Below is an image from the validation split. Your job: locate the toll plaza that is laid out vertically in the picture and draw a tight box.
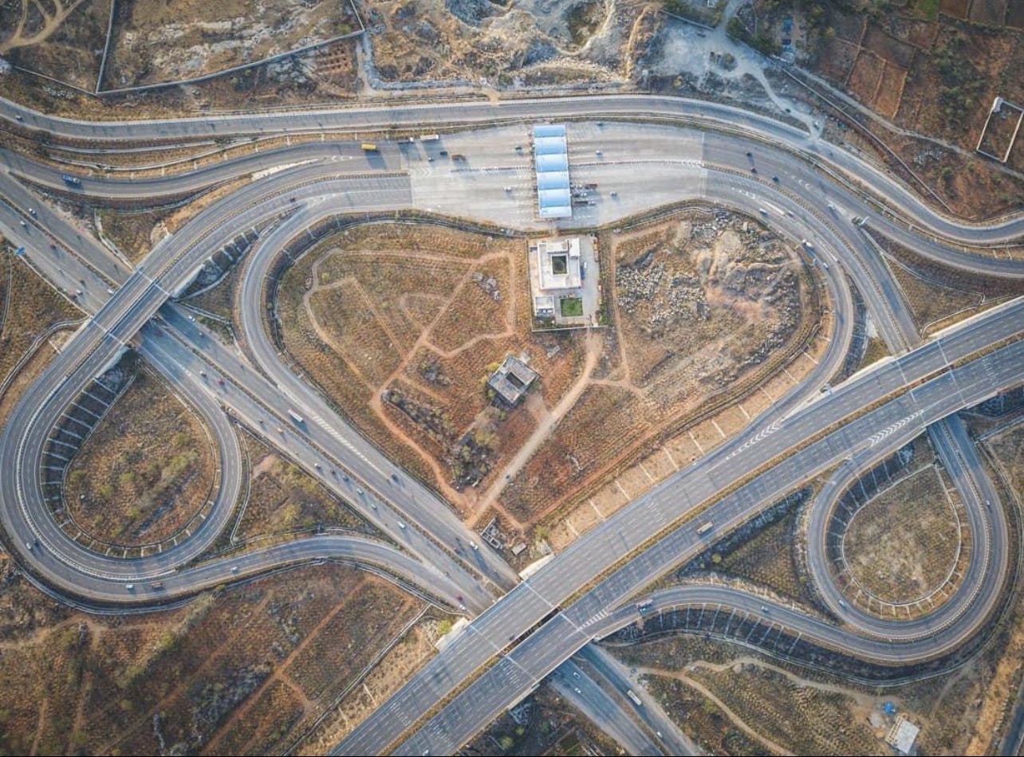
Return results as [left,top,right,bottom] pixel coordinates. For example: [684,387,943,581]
[527,125,576,225]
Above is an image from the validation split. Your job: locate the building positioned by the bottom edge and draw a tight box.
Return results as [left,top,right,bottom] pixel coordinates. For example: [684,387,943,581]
[883,714,920,753]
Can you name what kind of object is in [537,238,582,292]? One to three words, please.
building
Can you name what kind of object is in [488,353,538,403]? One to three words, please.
house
